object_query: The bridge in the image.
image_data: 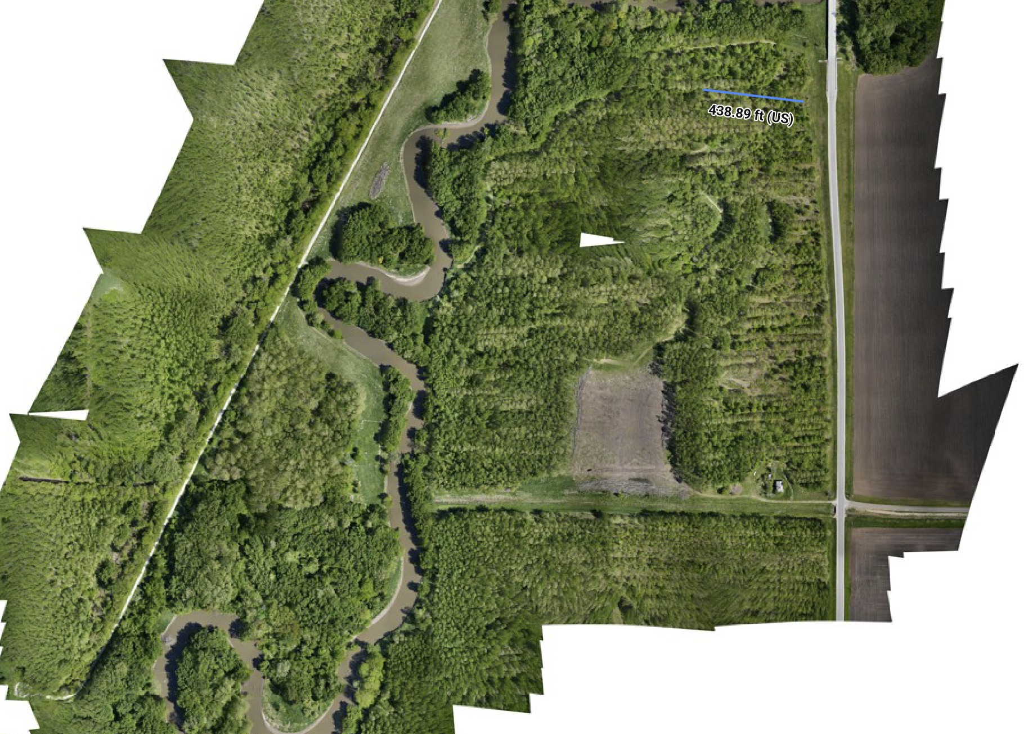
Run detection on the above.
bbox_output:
[819,0,844,91]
